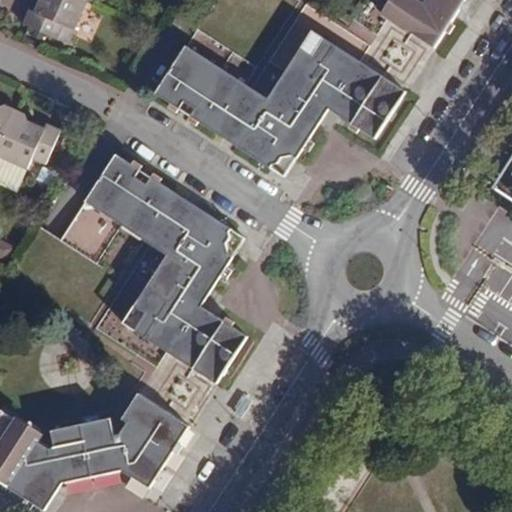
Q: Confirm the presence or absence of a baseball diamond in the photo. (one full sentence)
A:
No, no baseball diamond is visible in the scene.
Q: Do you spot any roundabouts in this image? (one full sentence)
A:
Yes, you can see a roundabout in this photo.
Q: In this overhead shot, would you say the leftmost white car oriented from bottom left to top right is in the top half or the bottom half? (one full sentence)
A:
You can find the leftmost white car oriented from bottom left to top right in the bottom half.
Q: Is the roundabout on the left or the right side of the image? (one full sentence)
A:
The roundabout appears in the right half of the scene.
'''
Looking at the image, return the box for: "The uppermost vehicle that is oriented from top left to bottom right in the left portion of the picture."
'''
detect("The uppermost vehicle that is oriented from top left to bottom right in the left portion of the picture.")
[148,106,173,127]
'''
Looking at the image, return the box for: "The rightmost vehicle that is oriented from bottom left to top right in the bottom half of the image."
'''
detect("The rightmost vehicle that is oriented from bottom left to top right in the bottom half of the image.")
[220,422,240,447]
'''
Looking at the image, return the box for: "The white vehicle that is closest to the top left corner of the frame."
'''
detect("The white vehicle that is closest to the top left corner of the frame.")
[132,140,160,162]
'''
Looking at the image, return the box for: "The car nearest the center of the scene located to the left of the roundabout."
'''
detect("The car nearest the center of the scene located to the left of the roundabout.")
[236,209,260,228]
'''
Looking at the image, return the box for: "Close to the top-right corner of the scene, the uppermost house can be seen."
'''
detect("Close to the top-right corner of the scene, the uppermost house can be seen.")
[386,0,466,47]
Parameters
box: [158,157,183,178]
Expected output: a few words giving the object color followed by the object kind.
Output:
white car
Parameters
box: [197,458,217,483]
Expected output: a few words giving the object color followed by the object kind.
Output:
white car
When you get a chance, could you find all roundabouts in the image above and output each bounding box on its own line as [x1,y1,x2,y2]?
[286,192,439,343]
